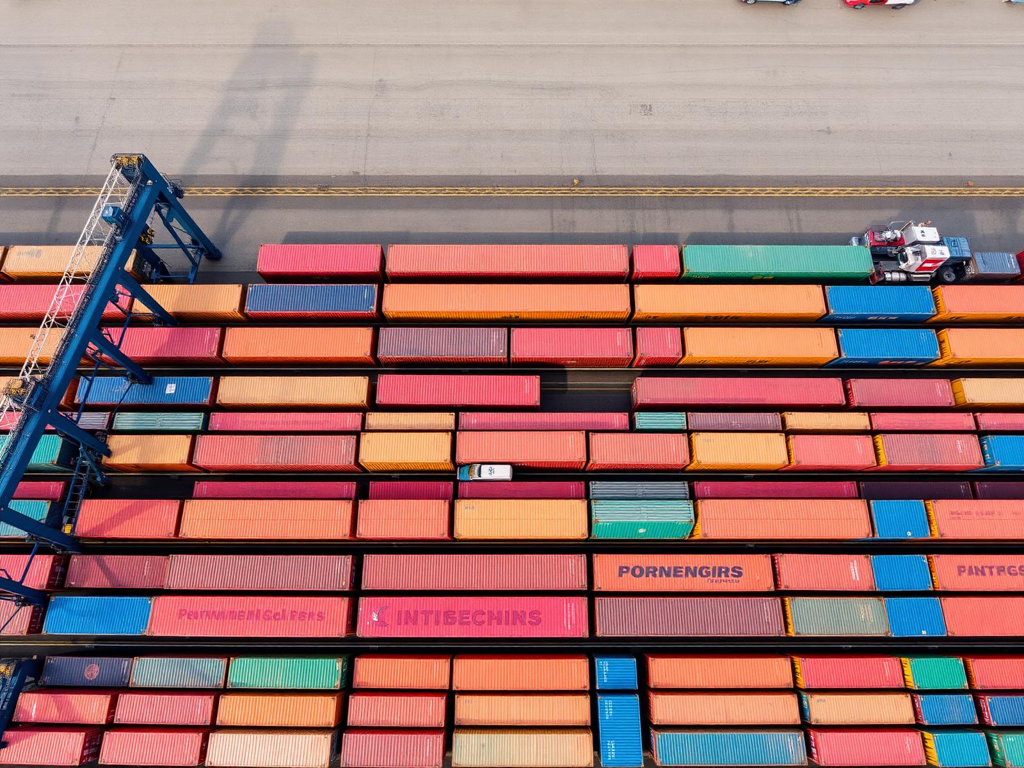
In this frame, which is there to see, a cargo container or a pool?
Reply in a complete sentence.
Of the two, only a cargo container appears.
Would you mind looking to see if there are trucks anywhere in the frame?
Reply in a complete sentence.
Yes, you can see a truck in this photo.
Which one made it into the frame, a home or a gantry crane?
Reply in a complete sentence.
I can see a gantry crane in this picture.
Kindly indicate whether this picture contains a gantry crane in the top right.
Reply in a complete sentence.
No, there is no gantry crane in the top right.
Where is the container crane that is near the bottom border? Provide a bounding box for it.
[0,651,42,755]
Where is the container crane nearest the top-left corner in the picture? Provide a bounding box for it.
[0,150,225,608]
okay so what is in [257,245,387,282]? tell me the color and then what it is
red shipping container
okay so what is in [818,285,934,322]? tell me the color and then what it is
blue shipping container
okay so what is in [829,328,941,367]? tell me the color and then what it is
blue shipping container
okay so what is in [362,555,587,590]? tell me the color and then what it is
pink shipping container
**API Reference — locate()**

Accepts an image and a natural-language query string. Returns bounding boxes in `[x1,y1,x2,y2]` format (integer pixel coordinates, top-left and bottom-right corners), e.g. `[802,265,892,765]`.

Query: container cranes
[0,651,42,755]
[0,150,225,608]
